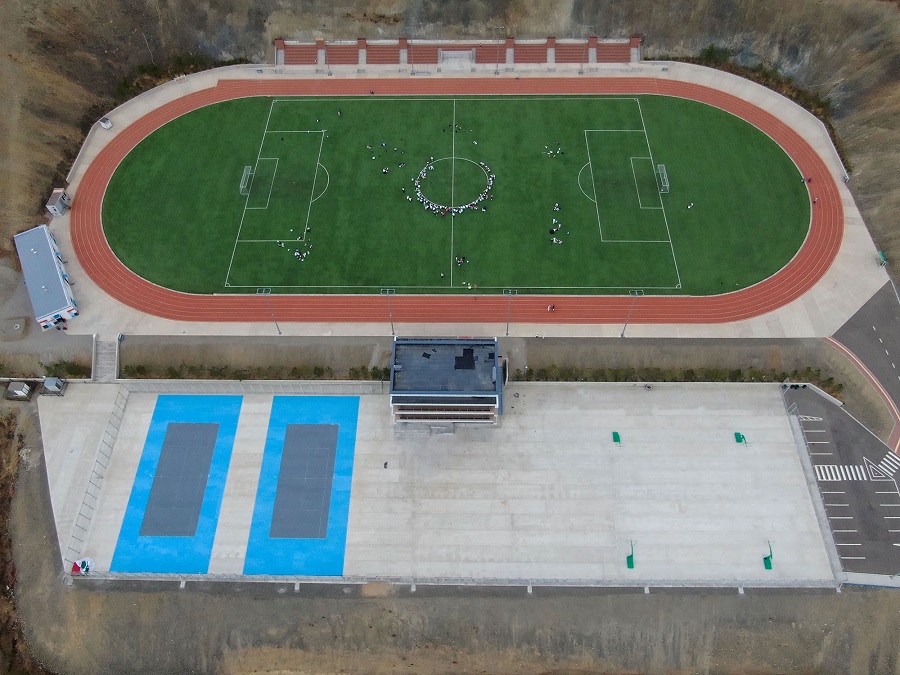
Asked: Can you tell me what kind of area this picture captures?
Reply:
sports ground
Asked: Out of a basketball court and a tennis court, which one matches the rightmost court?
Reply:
tennis court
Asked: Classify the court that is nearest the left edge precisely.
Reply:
tennis court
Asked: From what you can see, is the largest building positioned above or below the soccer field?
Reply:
below it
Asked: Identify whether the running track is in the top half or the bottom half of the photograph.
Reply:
top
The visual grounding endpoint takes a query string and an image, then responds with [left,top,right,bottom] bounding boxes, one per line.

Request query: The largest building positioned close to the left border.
[12,225,77,325]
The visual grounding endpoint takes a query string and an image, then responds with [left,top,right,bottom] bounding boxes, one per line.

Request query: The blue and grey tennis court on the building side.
[243,396,360,576]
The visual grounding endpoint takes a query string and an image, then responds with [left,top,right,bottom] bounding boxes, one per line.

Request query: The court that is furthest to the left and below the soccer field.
[110,396,243,573]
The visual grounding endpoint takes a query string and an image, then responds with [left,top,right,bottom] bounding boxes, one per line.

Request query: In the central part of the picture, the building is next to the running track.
[389,331,503,440]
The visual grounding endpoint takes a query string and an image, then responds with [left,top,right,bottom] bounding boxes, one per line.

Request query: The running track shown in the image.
[69,77,846,323]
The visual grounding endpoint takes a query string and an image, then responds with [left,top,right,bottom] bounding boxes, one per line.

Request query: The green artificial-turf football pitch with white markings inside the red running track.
[101,94,811,294]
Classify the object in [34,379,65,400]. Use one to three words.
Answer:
building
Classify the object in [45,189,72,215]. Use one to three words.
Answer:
building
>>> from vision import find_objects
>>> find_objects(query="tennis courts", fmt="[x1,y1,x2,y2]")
[110,396,243,573]
[243,396,360,576]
